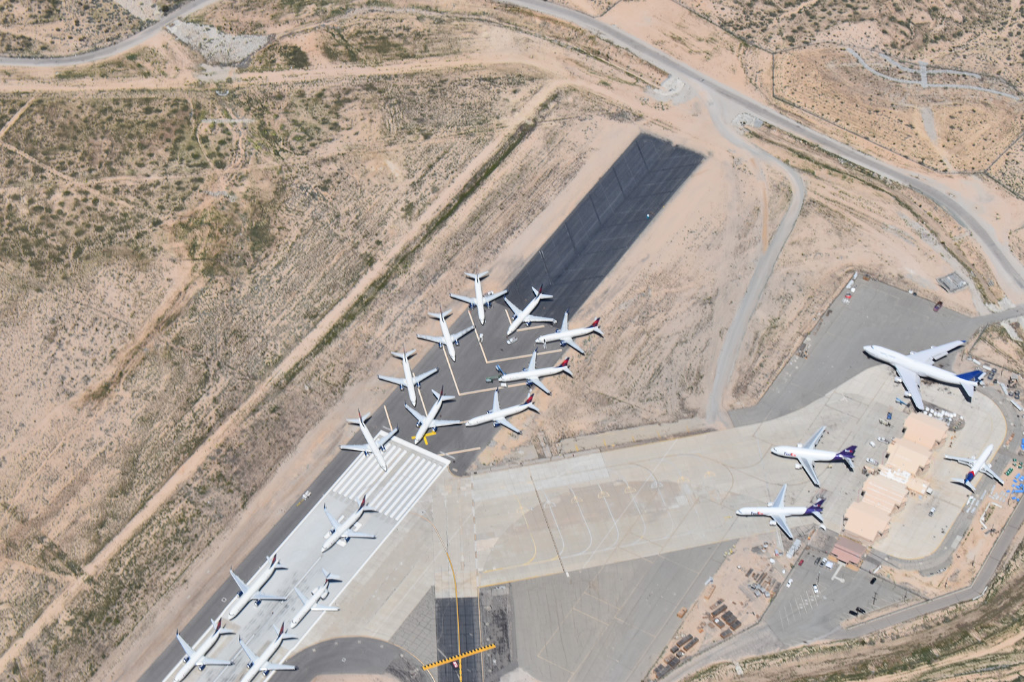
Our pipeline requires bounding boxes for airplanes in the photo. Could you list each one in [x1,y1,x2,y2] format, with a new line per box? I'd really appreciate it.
[771,424,857,484]
[291,569,339,629]
[229,556,287,620]
[240,624,299,682]
[404,386,462,444]
[498,346,571,393]
[322,497,378,553]
[416,304,475,362]
[536,307,602,352]
[339,410,397,471]
[466,386,538,432]
[736,485,823,538]
[376,343,438,406]
[864,337,983,410]
[173,619,234,682]
[948,447,1003,485]
[504,285,556,335]
[448,272,509,325]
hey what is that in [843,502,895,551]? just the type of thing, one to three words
hangar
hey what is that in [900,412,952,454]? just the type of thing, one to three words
hangar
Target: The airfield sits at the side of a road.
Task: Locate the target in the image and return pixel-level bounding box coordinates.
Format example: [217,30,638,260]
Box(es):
[139,133,1024,682]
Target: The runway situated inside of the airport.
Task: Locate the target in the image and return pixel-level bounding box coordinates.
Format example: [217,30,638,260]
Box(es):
[163,429,452,682]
